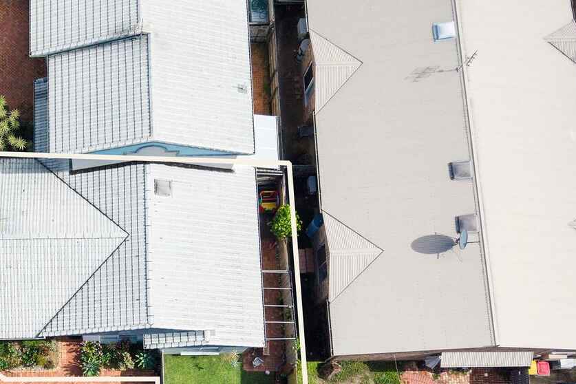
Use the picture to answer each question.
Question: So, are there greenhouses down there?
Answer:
No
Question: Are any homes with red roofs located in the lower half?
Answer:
No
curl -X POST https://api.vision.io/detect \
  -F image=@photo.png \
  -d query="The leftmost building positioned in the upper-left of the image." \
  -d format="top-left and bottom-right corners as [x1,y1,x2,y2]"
[26,0,257,172]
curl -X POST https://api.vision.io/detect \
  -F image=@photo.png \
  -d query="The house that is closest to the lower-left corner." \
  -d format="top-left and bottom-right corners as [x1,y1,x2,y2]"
[0,157,268,357]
